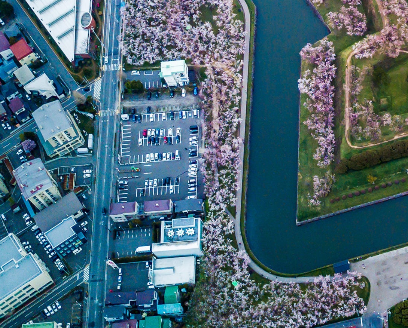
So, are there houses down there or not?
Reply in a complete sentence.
Yes, there's a house here.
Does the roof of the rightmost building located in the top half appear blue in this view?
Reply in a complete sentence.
No, the roof of the rightmost building located in the top half is white.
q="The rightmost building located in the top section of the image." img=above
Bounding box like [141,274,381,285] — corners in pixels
[160,61,189,87]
